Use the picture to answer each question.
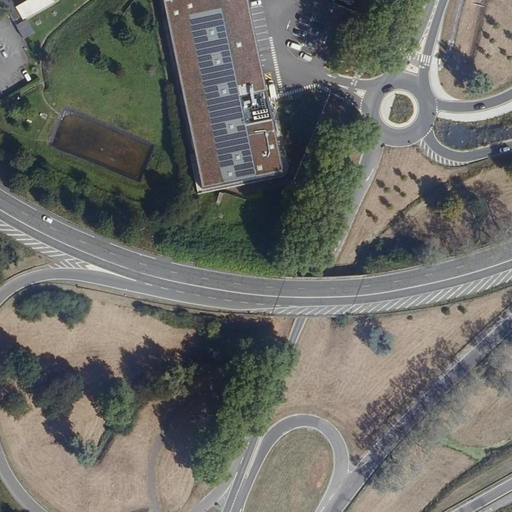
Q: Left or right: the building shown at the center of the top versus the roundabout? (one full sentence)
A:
Compared with the roundabout, the building shown at the center of the top is located further to the left.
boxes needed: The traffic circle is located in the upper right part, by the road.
[363,72,436,146]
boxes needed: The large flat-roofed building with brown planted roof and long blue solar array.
[164,0,284,194]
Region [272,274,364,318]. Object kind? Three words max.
overpass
